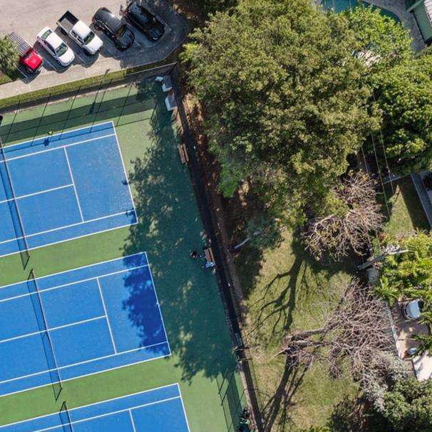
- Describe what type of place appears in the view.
sports ground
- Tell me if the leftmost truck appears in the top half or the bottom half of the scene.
top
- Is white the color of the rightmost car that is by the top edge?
No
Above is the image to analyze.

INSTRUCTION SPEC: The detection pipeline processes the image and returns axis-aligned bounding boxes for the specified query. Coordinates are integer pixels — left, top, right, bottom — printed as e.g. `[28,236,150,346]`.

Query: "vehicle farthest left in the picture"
[3,26,45,77]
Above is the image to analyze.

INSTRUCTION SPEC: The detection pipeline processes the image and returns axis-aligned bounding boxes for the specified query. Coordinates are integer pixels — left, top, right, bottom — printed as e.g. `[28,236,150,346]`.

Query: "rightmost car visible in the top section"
[124,0,166,45]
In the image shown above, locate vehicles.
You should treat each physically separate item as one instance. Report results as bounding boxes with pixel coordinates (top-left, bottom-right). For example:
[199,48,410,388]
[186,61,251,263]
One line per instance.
[95,2,135,53]
[124,0,166,45]
[56,2,102,58]
[3,26,45,77]
[38,22,76,69]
